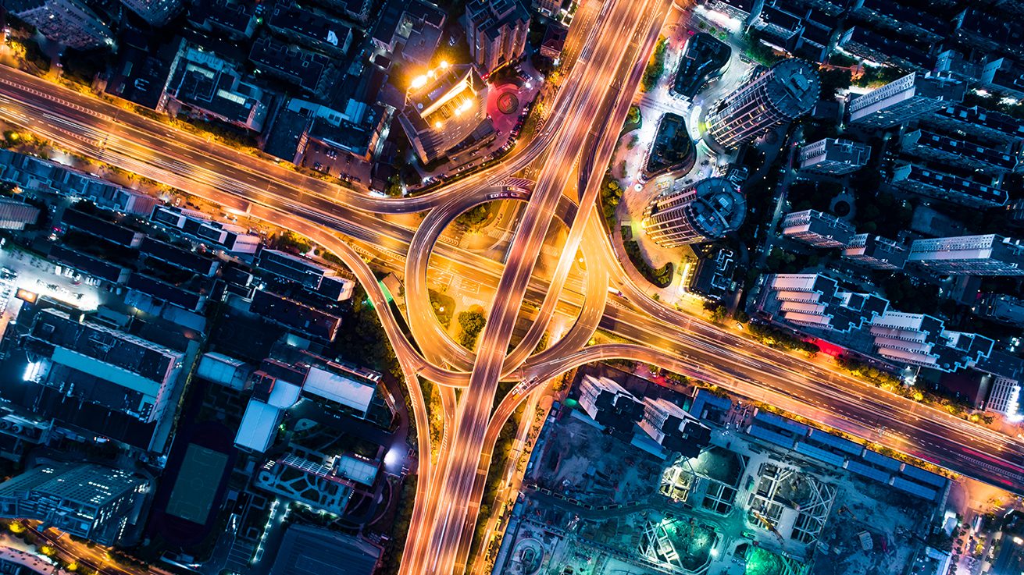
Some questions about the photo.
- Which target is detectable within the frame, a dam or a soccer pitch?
soccer pitch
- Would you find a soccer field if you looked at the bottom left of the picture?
Yes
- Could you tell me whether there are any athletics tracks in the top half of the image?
No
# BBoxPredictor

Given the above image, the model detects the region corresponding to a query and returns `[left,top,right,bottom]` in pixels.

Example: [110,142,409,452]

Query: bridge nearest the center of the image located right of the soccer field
[423,0,648,575]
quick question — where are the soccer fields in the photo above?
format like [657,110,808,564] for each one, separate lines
[166,443,229,525]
